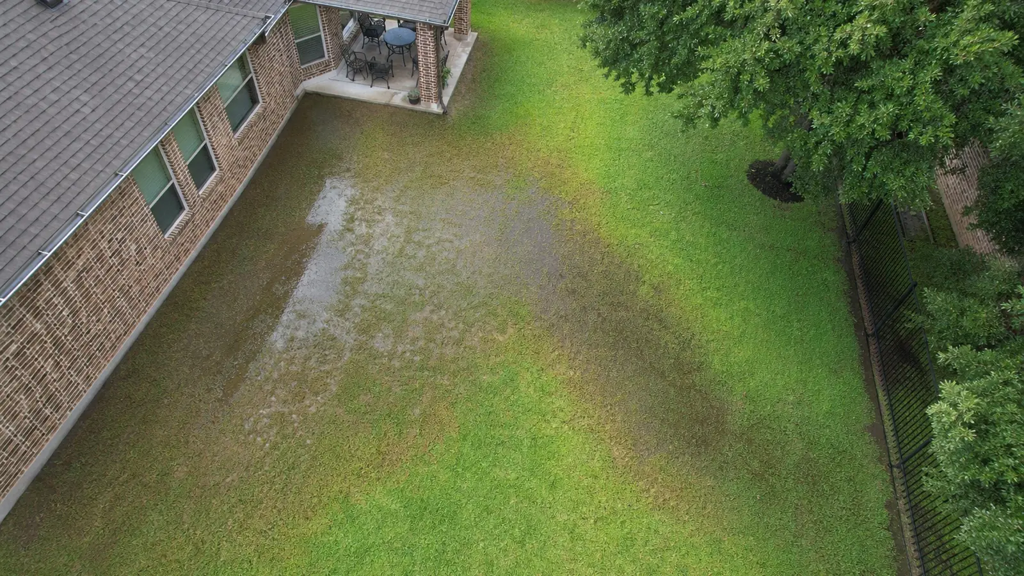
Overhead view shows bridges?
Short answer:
No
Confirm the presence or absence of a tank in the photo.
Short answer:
No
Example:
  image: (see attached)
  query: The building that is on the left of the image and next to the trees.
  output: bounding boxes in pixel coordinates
[0,0,466,515]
